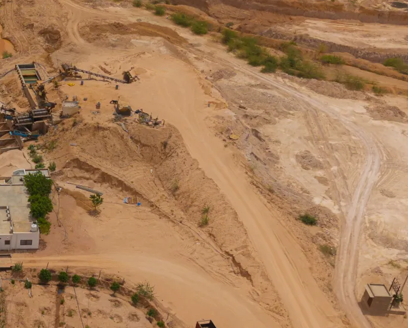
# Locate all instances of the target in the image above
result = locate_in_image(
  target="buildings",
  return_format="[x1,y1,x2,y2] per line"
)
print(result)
[0,184,39,250]
[362,282,407,313]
